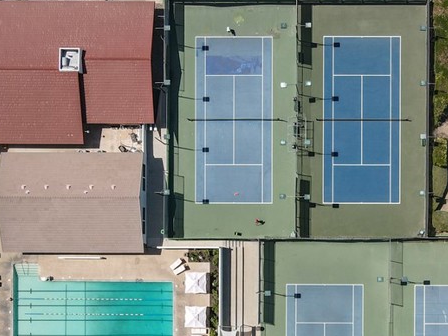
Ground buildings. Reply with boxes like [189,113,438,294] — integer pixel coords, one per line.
[0,152,148,253]
[0,0,155,145]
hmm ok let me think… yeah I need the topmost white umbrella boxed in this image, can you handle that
[185,272,207,293]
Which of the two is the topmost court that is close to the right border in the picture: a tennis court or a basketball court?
tennis court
